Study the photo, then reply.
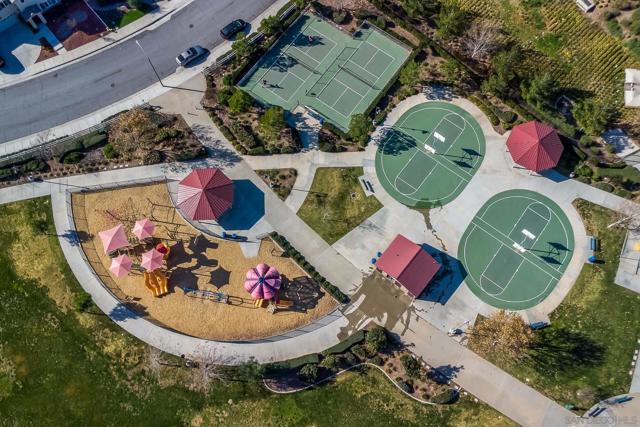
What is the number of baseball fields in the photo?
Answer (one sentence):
I count no baseball fields.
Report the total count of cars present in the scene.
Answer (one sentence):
The number of cars here is 2.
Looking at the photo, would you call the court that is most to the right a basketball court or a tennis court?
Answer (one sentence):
It turns out the court that is most to the right is a basketball court.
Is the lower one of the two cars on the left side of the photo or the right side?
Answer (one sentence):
The lower one of the two cars is on the left side of the image.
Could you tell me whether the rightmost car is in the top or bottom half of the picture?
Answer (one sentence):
The rightmost car is in the top half of the image.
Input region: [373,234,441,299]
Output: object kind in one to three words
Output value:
building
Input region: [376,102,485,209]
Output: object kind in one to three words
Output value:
basketball court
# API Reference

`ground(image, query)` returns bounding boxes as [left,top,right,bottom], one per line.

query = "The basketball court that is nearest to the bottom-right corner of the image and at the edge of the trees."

[459,189,575,308]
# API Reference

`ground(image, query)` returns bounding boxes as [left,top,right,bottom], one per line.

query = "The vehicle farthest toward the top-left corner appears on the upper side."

[174,48,204,68]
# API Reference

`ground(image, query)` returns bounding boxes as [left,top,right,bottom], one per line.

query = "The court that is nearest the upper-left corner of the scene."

[239,8,352,111]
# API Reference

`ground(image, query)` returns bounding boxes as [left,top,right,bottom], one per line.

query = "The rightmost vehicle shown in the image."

[218,21,247,42]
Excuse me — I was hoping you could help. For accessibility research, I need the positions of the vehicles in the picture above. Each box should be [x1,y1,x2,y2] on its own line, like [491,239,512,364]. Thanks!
[218,21,247,42]
[174,48,204,68]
